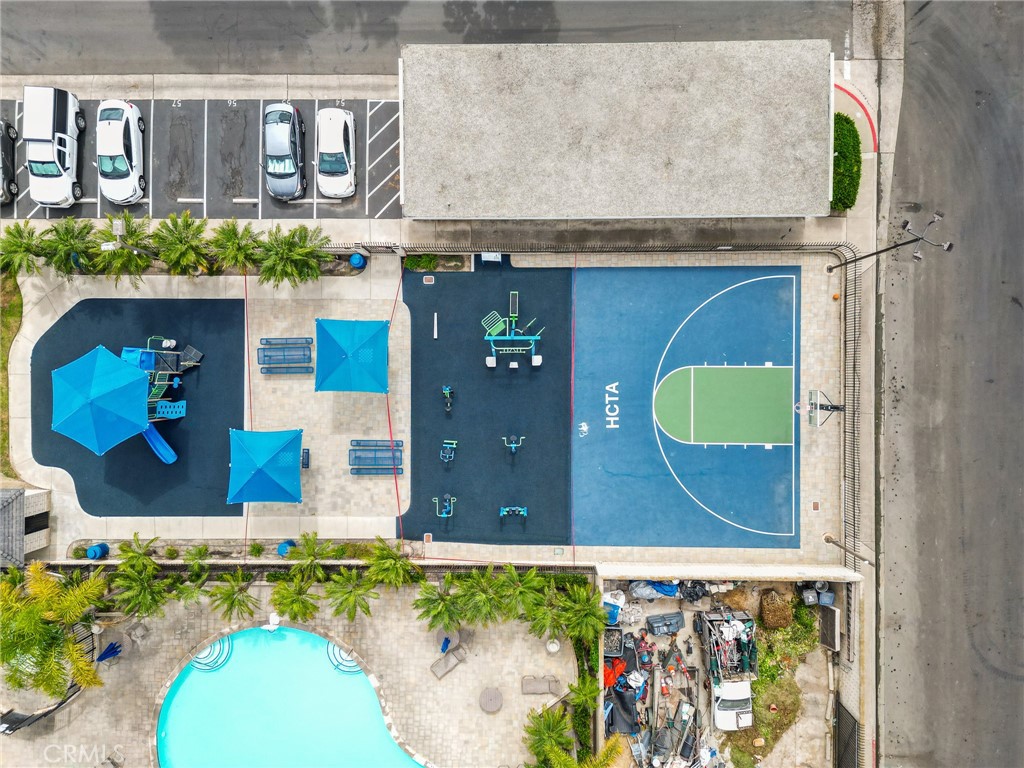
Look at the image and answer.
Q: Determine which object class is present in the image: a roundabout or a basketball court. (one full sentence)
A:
This aerial view contains a basketball court.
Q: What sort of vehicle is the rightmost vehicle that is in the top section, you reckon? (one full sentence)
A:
It turns out the rightmost vehicle that is in the top section is an automobile.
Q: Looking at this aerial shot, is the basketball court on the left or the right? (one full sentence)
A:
The basketball court sits on the right side.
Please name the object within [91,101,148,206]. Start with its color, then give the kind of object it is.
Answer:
white car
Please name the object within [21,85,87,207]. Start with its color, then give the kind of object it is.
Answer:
white truck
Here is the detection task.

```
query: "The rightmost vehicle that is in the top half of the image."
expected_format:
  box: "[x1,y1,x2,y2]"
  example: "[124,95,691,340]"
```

[311,107,359,198]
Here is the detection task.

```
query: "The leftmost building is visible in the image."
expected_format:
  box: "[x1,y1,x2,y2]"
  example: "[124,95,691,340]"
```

[0,487,48,569]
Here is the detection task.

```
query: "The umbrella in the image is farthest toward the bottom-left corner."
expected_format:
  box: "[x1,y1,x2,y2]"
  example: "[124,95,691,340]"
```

[98,643,119,661]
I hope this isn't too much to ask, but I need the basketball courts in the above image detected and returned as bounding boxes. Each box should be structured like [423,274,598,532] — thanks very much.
[572,265,801,548]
